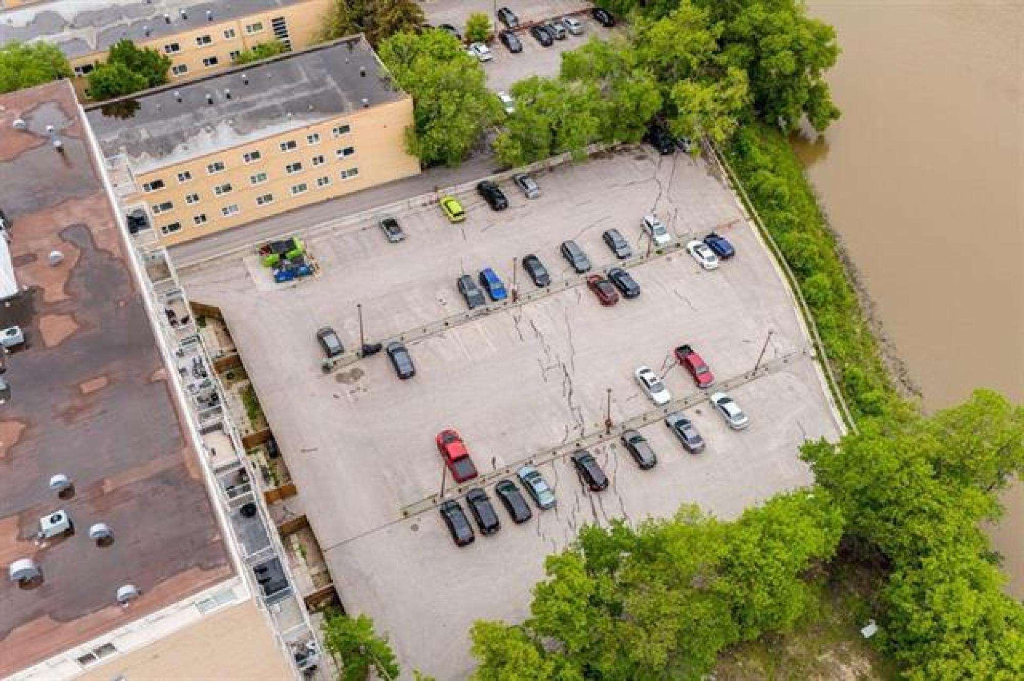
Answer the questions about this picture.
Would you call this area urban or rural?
urban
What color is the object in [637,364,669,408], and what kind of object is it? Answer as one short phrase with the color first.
white car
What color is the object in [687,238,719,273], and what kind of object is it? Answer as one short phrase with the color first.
white car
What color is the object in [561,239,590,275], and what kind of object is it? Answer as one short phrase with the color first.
gray car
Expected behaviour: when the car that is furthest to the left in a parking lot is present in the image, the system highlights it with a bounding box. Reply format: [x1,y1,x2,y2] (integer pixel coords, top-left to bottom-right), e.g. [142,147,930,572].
[317,324,345,359]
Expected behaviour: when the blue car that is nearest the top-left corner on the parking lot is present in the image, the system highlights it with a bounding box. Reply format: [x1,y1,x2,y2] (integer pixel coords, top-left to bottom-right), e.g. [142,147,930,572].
[479,267,506,301]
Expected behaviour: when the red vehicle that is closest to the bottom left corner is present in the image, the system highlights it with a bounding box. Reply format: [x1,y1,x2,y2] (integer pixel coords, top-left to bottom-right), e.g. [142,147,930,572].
[439,428,477,484]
